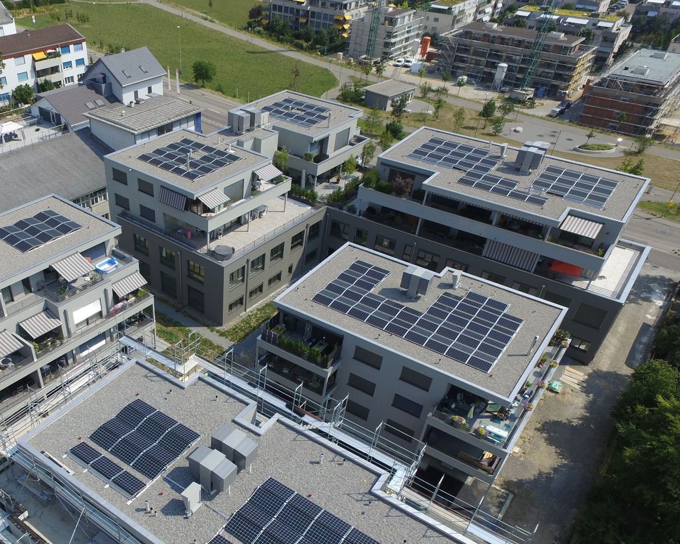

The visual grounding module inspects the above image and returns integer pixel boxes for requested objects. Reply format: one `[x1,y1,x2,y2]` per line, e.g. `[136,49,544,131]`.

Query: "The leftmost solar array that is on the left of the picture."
[0,210,84,254]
